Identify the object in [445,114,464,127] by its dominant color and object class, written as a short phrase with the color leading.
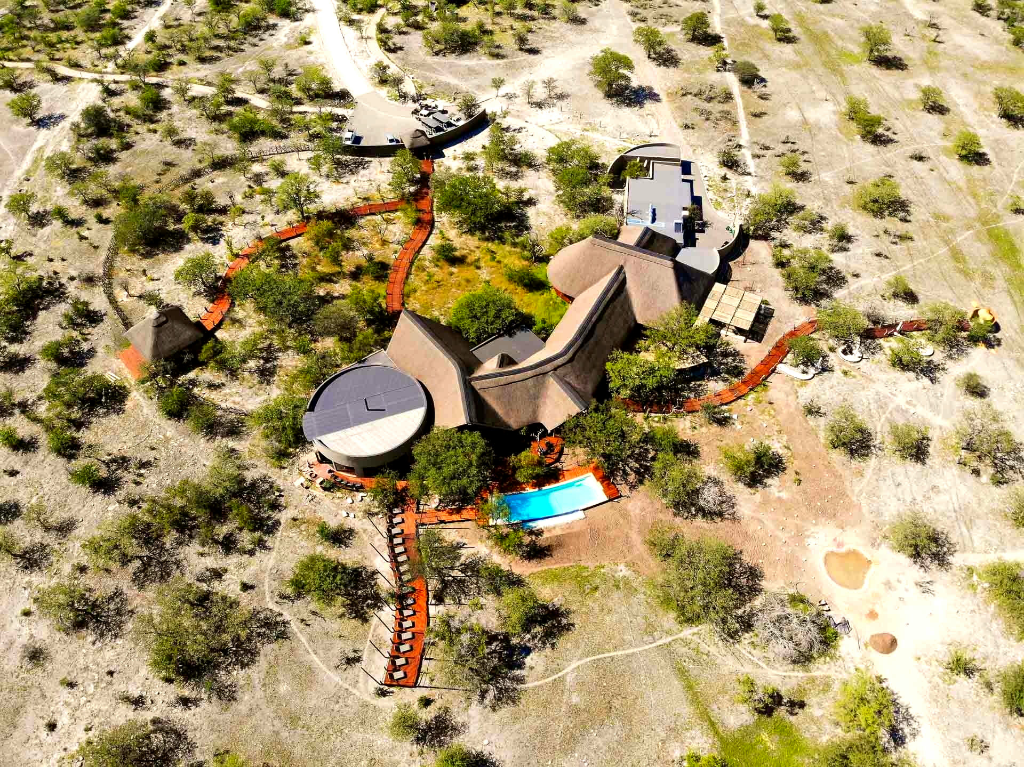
white vehicle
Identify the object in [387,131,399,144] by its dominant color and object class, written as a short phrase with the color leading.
white vehicle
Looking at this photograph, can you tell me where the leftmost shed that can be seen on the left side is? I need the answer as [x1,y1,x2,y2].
[124,306,203,360]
